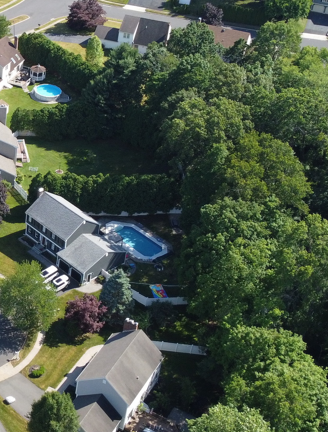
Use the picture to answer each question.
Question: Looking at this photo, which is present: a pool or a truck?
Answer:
pool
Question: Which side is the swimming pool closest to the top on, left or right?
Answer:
left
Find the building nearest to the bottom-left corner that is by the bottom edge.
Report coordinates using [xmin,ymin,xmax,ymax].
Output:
[75,317,167,432]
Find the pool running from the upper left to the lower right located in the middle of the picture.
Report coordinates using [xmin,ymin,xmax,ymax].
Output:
[105,221,167,261]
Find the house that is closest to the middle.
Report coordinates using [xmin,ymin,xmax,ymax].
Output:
[25,185,123,284]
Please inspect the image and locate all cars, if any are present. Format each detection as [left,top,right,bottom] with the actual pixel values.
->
[50,273,71,292]
[46,263,59,282]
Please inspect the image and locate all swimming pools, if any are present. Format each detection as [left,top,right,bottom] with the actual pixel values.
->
[30,83,75,104]
[105,221,167,261]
